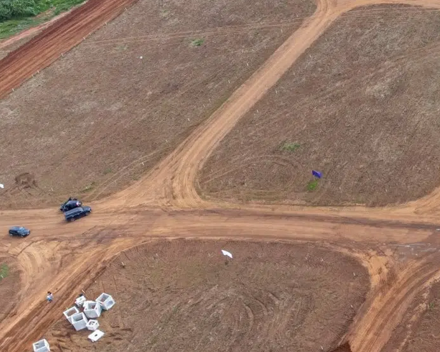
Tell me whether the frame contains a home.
No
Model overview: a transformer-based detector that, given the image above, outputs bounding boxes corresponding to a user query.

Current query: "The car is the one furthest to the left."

[6,225,30,238]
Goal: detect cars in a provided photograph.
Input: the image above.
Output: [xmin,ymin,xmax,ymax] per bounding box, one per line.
[60,204,91,221]
[58,194,83,211]
[6,225,30,238]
